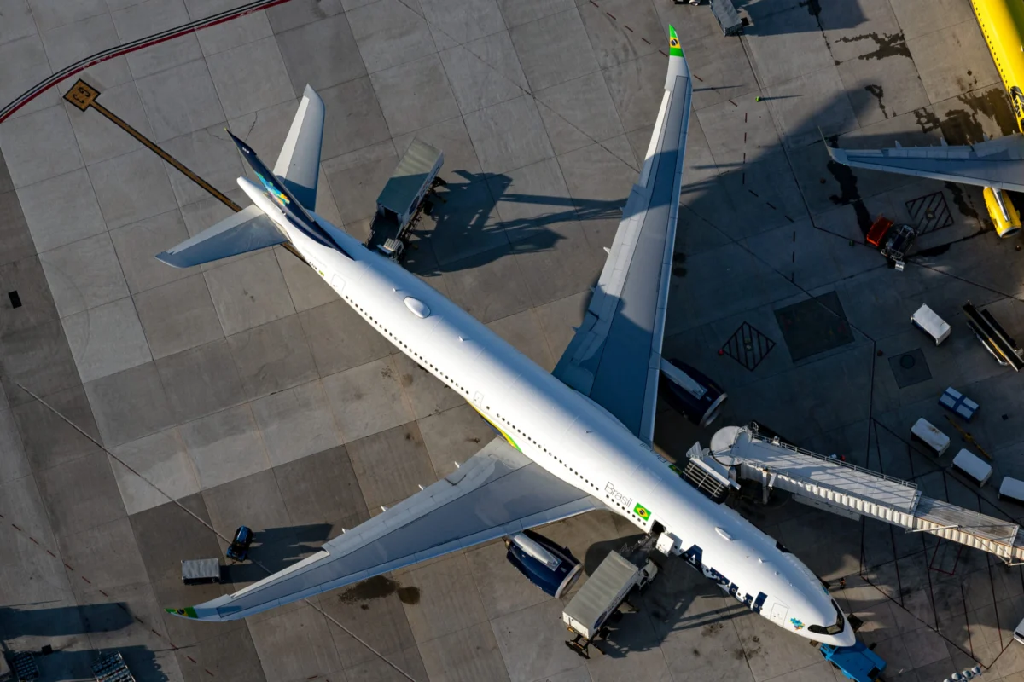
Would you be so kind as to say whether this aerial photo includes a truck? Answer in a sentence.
Yes, looking at the shot, I can spot a truck.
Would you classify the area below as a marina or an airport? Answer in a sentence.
The area seen from above is an airport.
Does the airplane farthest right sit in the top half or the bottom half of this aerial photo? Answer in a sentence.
Seen from above, the airplane farthest right lies in the top half of the view.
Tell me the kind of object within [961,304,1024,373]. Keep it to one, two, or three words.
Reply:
work vehicle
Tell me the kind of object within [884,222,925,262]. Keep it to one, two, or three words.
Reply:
vehicle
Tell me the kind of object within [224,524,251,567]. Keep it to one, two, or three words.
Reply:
work vehicle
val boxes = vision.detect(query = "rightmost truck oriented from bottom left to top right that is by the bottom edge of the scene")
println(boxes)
[557,528,653,662]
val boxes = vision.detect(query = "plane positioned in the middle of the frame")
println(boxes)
[156,18,856,649]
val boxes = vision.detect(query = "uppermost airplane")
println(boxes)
[822,0,1024,237]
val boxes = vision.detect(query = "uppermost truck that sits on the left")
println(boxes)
[361,137,450,260]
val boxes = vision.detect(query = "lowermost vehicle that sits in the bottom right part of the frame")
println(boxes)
[816,641,892,682]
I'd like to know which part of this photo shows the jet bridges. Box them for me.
[681,420,1024,565]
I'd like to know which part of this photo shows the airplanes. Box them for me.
[156,18,856,649]
[822,0,1024,237]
